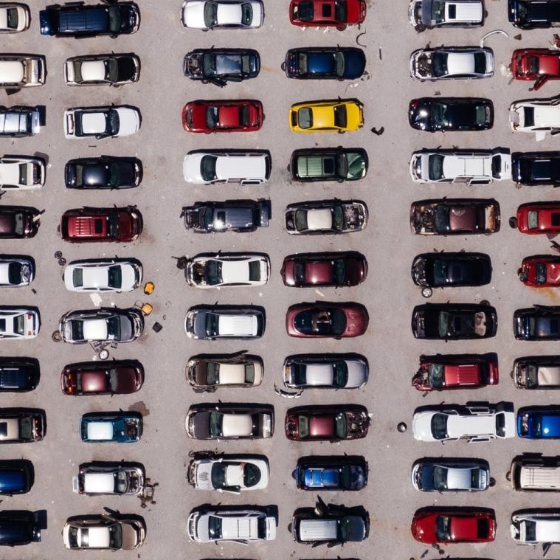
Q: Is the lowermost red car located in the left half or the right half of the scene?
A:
right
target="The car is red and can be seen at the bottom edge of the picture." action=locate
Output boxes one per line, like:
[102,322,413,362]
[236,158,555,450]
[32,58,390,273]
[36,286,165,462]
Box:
[412,510,495,547]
